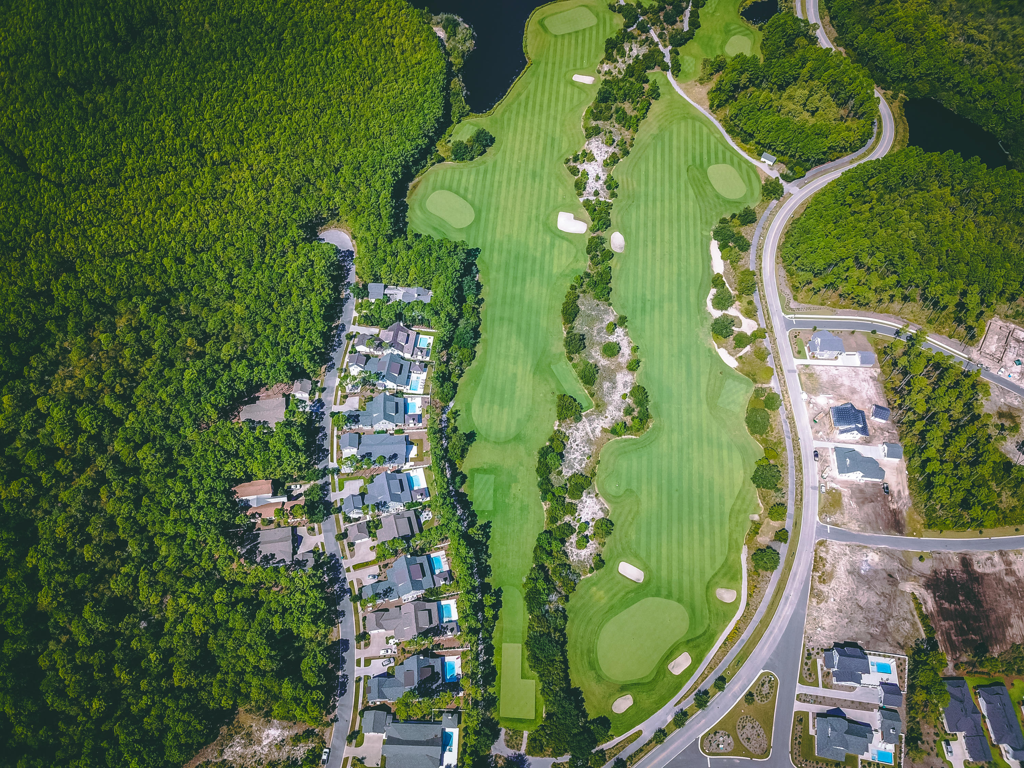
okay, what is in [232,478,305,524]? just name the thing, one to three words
house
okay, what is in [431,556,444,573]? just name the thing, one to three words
swimming pool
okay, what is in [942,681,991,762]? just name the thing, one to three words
house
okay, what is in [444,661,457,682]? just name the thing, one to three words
swimming pool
